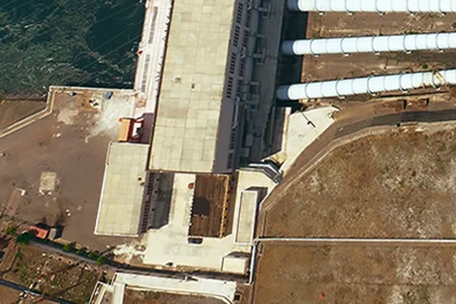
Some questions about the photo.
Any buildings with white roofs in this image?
Yes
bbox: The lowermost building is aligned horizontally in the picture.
[93,271,240,304]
